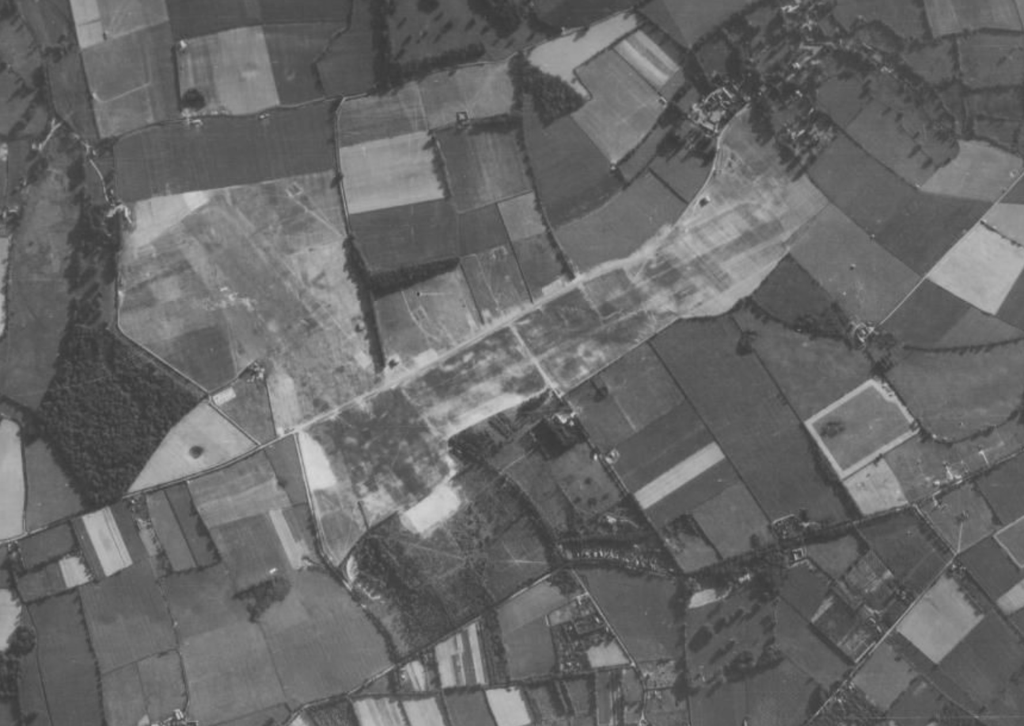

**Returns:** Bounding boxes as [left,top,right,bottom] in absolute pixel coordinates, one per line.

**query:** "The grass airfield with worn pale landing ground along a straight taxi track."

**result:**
[117,107,830,567]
